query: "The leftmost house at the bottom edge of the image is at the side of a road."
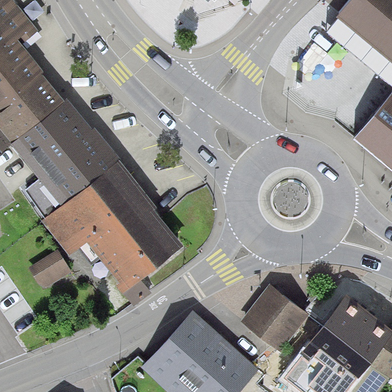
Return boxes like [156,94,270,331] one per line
[144,312,260,392]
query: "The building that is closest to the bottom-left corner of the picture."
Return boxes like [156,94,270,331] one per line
[32,250,72,289]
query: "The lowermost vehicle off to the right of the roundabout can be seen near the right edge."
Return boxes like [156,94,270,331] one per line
[362,258,382,270]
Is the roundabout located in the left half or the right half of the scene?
right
